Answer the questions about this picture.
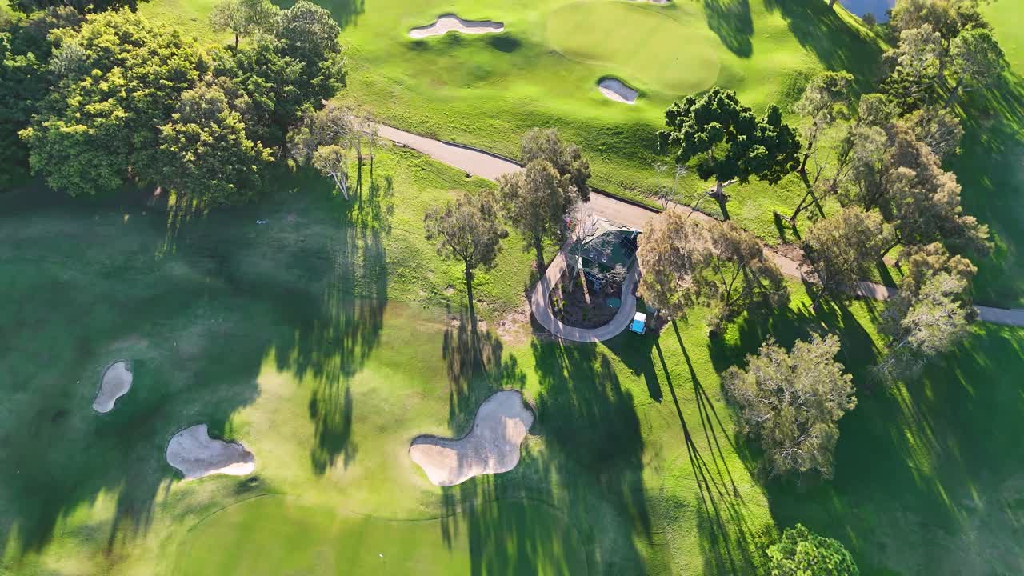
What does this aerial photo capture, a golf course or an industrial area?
golf course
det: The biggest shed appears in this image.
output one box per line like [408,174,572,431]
[563,216,642,282]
